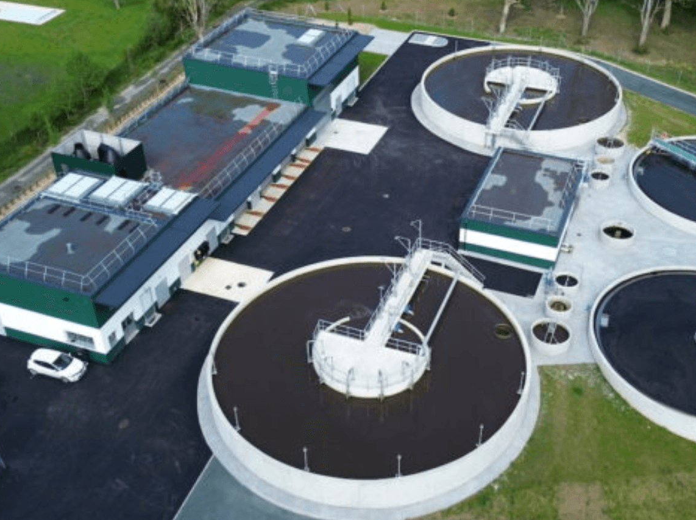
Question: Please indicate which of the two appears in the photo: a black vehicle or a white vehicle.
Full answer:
Of the two, only a white vehicle appears.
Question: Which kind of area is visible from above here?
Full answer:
What you see here is an industrial area.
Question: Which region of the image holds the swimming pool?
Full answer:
Look in the top left portion of the view to spot the swimming pool.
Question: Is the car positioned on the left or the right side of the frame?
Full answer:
You can find the car on the left side of the picture.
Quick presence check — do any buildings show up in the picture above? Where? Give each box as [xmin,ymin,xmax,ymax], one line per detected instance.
[0,9,377,364]
[456,146,593,271]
